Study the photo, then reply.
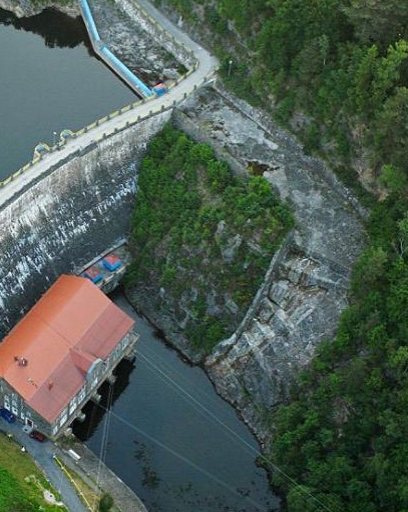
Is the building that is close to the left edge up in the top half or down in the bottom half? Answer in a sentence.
It is in the bottom half that the building that is close to the left edge appears.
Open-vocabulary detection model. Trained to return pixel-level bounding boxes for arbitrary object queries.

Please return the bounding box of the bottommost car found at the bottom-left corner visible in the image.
[28,426,48,443]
